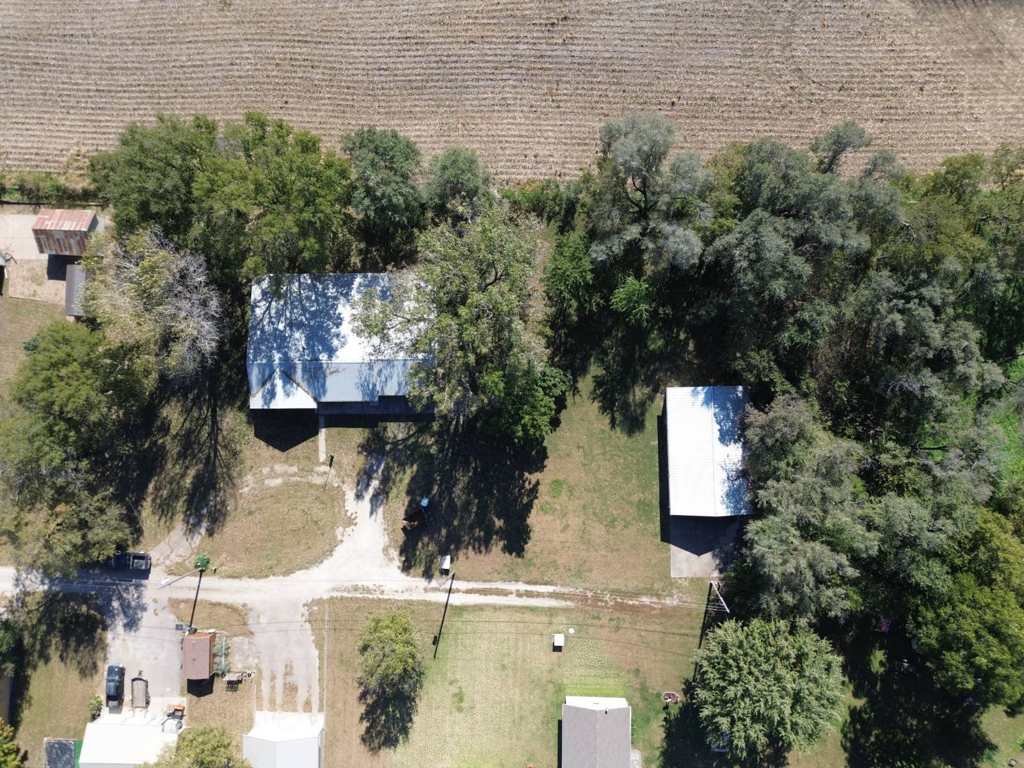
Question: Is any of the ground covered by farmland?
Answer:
Yes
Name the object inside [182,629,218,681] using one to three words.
shed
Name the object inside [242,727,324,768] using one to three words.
building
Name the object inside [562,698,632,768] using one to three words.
house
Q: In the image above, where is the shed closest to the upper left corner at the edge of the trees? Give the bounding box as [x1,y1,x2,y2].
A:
[32,208,104,258]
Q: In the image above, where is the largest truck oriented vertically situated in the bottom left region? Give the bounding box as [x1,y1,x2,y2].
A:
[106,661,128,710]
